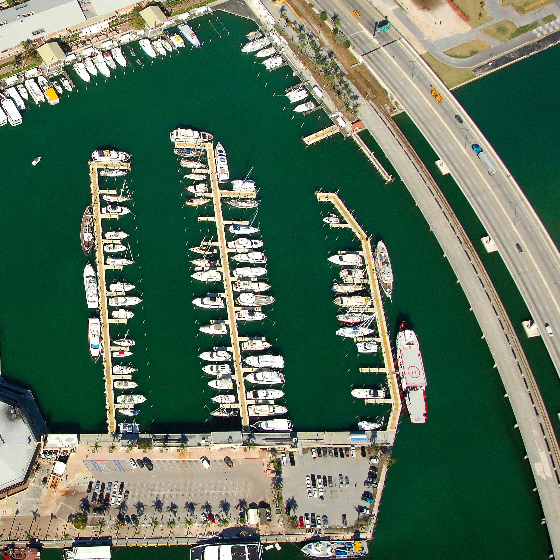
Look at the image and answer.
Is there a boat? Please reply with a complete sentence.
Yes, there's a boat here.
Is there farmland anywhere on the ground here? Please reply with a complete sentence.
No, there's no farmland in this view.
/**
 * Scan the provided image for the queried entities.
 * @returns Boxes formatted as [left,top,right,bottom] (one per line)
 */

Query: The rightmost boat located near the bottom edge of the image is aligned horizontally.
[302,541,370,558]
